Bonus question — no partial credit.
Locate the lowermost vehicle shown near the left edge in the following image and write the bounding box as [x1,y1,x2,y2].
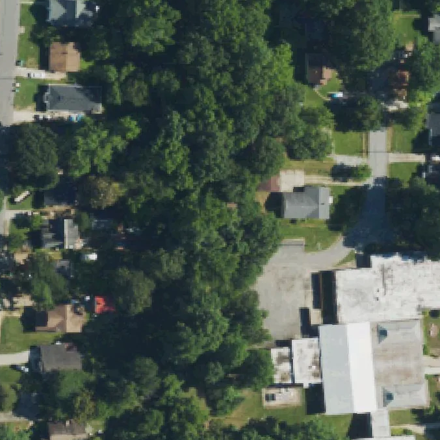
[13,188,29,202]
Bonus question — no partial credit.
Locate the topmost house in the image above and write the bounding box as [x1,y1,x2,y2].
[49,0,92,24]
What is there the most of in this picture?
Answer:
trees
